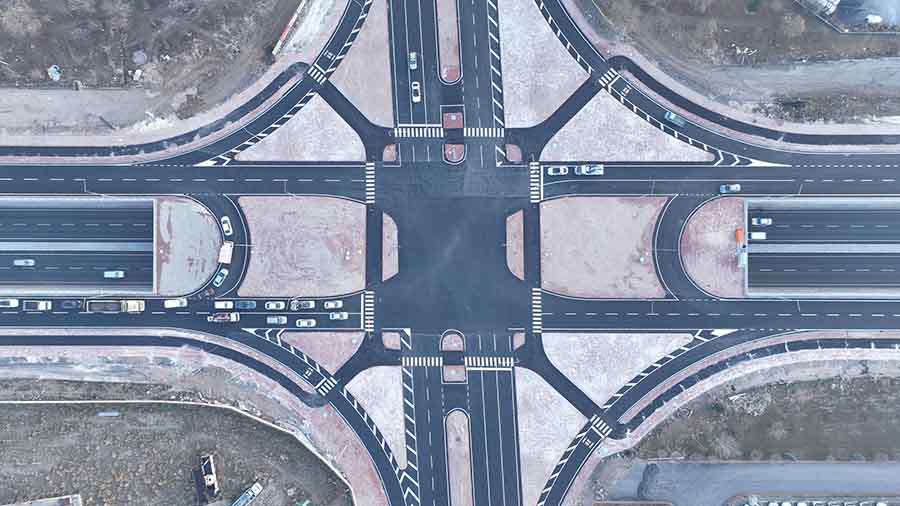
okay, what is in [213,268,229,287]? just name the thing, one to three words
car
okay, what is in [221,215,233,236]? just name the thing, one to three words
vehicle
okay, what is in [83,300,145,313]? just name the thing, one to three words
vehicle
